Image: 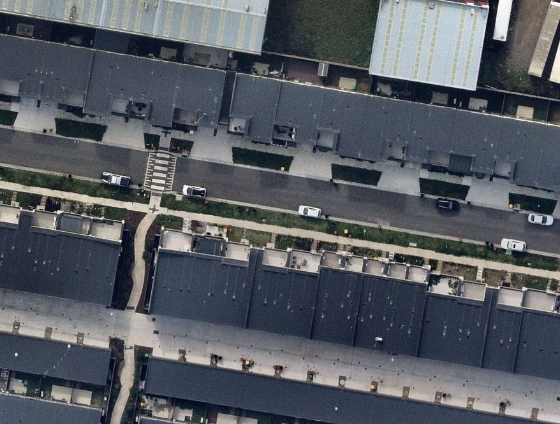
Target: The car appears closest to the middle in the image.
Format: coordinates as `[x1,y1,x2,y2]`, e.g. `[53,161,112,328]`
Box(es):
[298,204,322,217]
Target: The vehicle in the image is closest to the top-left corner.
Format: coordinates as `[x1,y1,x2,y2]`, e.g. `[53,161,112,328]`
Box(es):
[101,173,132,188]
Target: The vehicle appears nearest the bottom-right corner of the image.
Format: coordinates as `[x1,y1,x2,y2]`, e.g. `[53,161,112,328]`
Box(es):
[501,239,526,252]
